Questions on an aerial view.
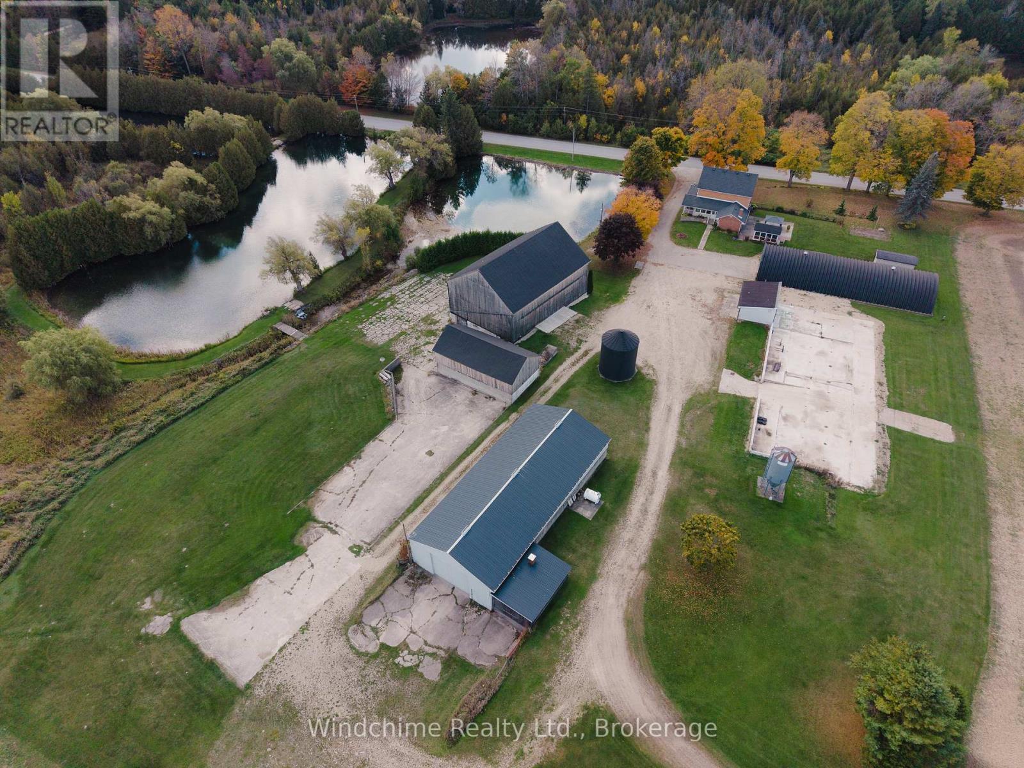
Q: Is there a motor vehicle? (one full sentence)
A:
No, the picture doesn't show any motor vehicle.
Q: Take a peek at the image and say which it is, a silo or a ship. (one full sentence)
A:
Visible in the photo is a silo.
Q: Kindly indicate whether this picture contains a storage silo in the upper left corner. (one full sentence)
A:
No, no storage silo appears in the upper left corner.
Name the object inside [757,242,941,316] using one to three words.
shed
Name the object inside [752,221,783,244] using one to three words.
building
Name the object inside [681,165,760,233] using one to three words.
house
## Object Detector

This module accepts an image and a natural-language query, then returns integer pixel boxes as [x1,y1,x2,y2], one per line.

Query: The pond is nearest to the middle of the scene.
[427,154,626,256]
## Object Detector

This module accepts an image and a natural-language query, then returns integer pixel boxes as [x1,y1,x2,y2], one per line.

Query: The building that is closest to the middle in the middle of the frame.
[432,323,542,404]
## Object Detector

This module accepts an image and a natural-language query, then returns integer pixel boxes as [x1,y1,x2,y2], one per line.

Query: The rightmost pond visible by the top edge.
[384,25,528,111]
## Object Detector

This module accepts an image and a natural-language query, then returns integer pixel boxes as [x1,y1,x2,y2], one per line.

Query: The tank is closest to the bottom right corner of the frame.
[765,453,794,483]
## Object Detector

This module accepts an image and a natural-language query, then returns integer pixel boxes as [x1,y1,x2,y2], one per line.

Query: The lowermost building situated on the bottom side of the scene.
[404,403,613,633]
